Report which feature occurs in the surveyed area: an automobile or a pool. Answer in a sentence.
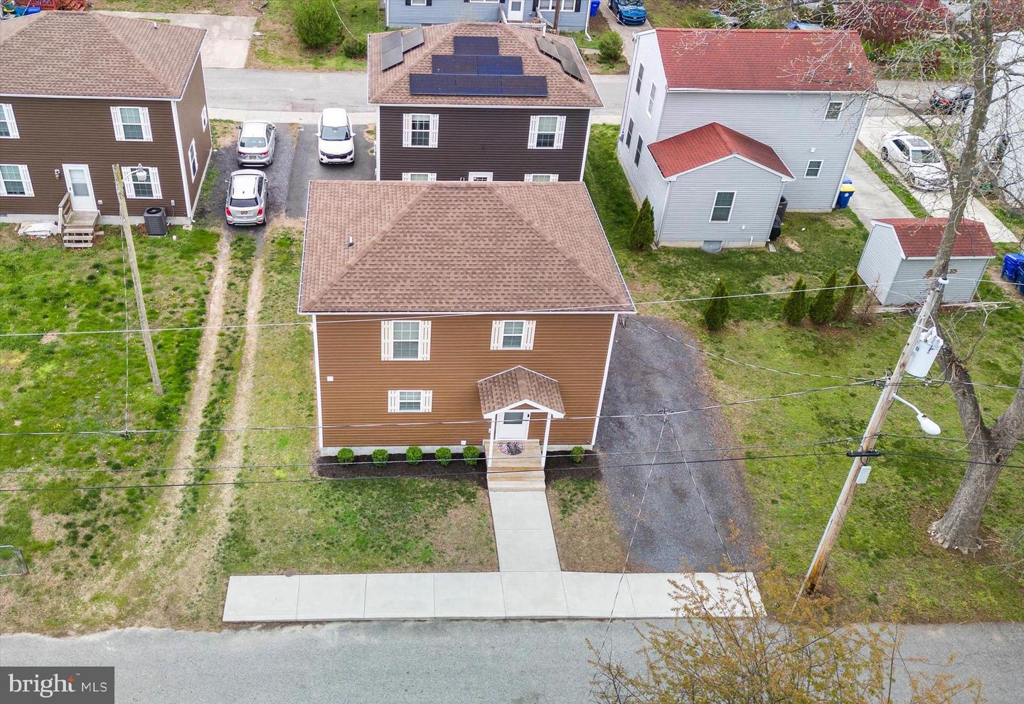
I can see an automobile in this picture.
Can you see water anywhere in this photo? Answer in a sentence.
No, no water is visible.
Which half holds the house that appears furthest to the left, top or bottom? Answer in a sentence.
The house that appears furthest to the left is in the top half of the image.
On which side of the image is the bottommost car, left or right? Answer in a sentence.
It is on the left.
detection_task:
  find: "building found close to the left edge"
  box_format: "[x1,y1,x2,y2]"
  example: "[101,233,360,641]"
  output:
[0,9,211,226]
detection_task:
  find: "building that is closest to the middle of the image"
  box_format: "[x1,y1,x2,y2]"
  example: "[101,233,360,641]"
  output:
[298,178,633,491]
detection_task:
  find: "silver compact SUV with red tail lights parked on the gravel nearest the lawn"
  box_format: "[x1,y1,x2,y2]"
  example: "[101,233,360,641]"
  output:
[226,164,274,218]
